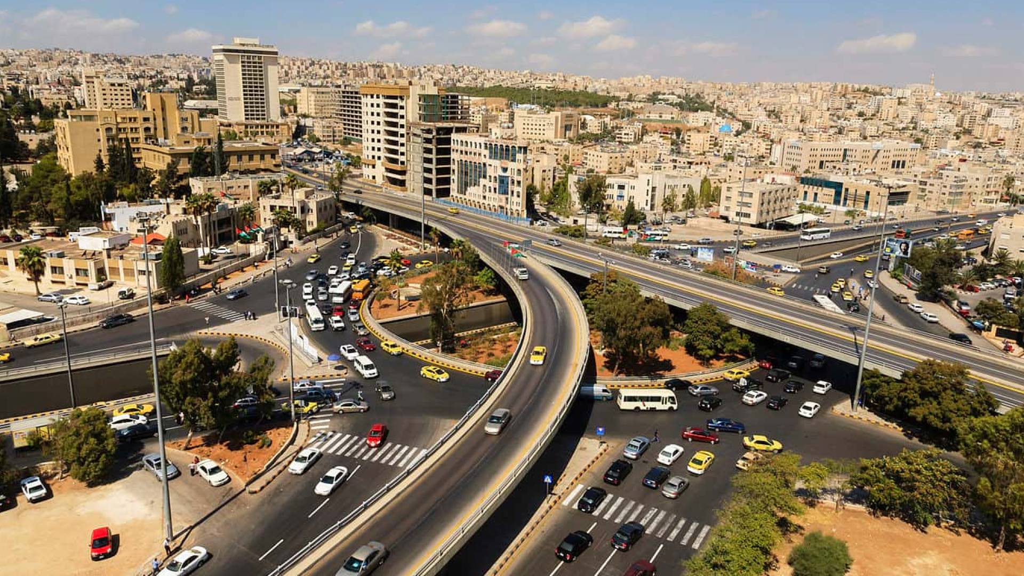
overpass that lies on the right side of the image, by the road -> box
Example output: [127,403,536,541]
[293,181,1024,425]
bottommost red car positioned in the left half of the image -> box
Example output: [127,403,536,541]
[88,527,114,562]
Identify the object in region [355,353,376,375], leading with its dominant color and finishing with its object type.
white vehicle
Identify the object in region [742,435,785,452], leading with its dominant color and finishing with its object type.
yellow car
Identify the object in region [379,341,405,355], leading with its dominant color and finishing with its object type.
yellow car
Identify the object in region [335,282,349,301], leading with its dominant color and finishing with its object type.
white vehicle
